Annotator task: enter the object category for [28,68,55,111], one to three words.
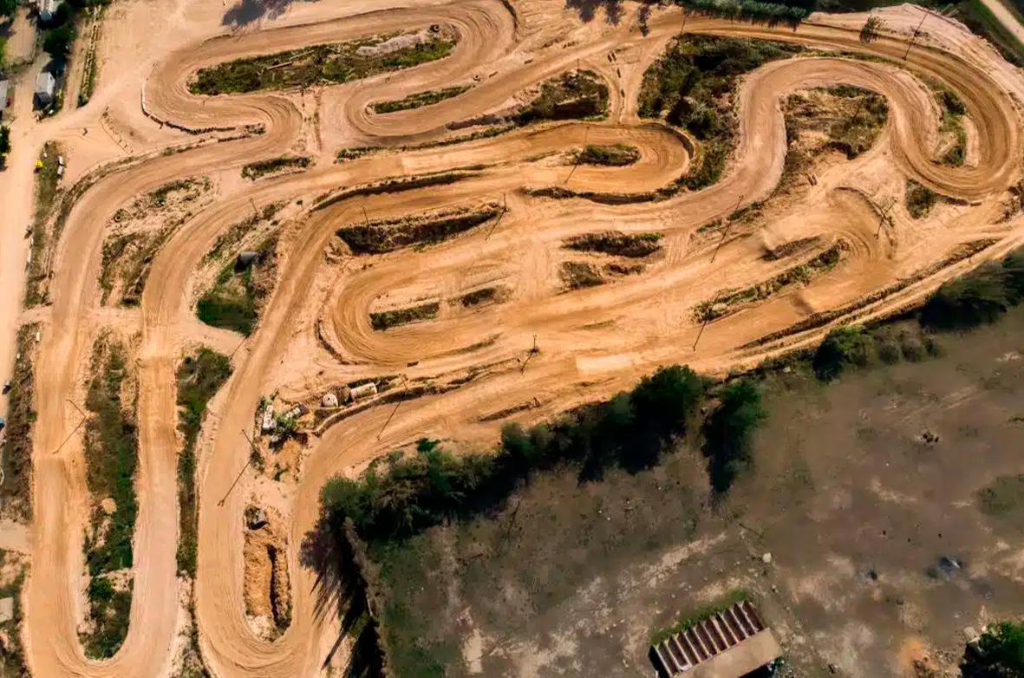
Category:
shed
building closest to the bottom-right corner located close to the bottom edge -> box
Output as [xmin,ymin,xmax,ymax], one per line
[650,598,786,678]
